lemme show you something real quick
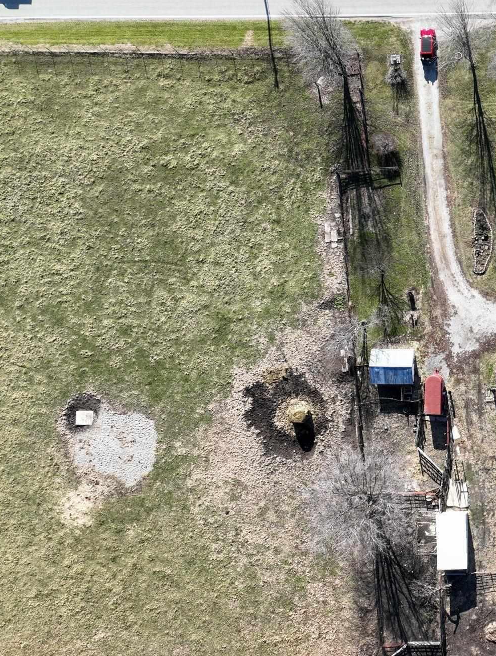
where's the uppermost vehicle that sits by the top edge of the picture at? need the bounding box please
[419,26,436,59]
